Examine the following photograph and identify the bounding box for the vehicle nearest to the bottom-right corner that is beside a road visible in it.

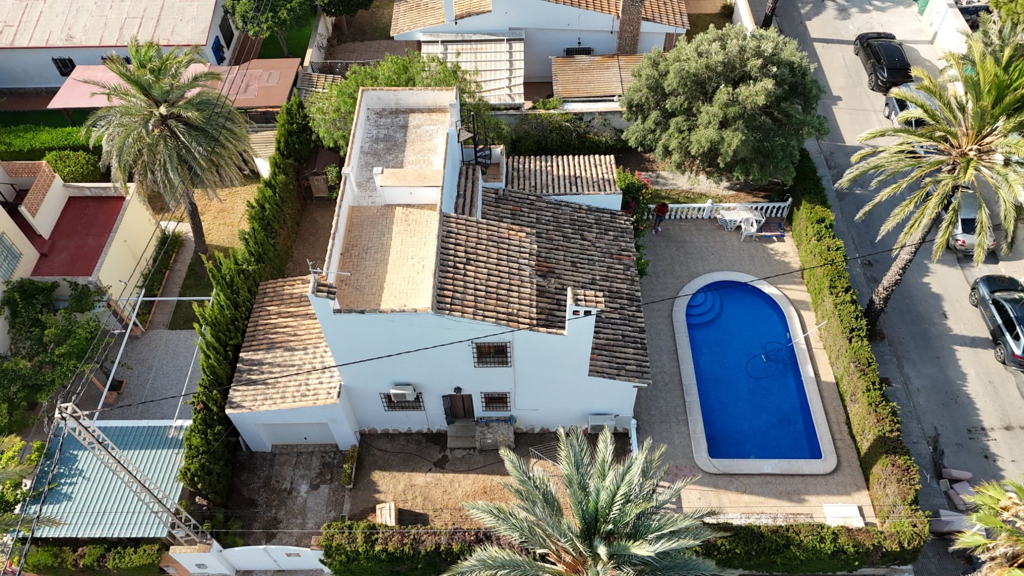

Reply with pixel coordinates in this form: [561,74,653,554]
[972,286,1024,382]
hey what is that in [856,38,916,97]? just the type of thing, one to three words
car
